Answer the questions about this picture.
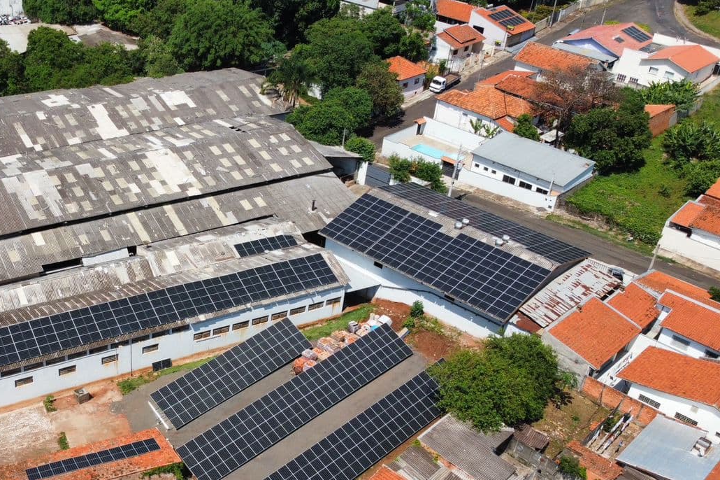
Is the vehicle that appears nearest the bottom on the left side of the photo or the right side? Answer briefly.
right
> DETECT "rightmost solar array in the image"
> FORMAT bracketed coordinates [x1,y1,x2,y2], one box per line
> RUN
[622,26,651,42]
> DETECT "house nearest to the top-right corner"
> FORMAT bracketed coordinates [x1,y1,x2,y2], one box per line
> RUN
[645,46,719,89]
